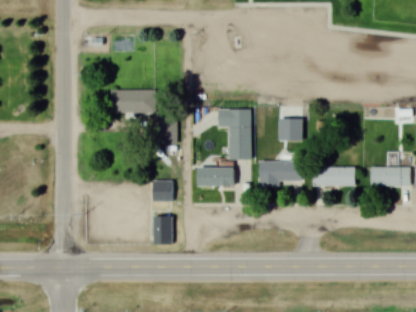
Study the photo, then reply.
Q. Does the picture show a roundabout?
No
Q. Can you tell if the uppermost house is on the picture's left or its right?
left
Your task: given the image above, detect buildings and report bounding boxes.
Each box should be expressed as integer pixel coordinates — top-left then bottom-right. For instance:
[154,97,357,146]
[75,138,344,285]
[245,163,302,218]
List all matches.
[371,168,412,187]
[110,90,156,115]
[310,168,356,188]
[197,168,236,188]
[396,108,415,124]
[154,215,175,244]
[279,118,304,142]
[219,109,253,160]
[164,120,178,145]
[259,162,306,188]
[153,181,174,202]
